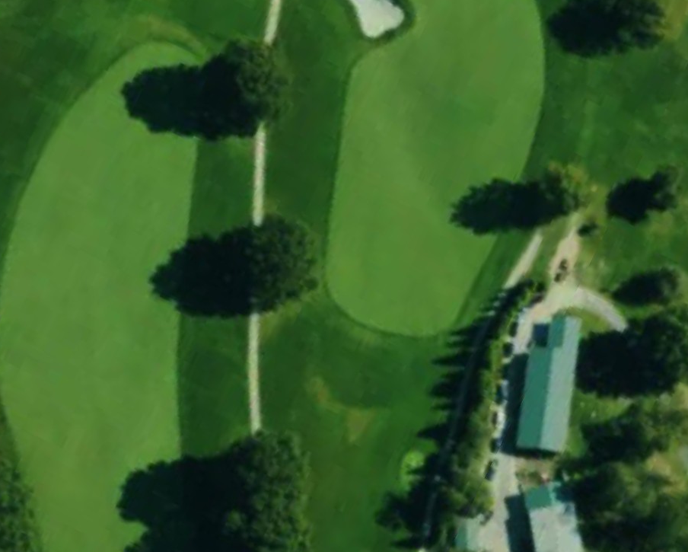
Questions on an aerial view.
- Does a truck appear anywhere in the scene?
No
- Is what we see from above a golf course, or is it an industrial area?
golf course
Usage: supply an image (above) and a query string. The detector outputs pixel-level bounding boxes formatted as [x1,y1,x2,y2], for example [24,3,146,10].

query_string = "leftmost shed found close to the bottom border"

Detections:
[453,520,482,552]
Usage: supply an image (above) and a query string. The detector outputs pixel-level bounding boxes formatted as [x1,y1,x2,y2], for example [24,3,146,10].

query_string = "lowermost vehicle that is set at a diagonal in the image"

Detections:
[479,510,494,525]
